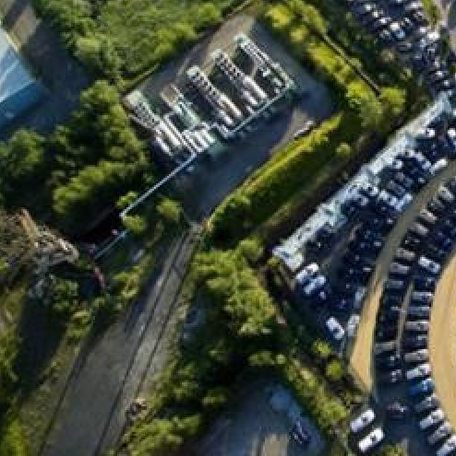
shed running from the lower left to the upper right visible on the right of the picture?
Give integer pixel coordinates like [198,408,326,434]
[272,89,447,256]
